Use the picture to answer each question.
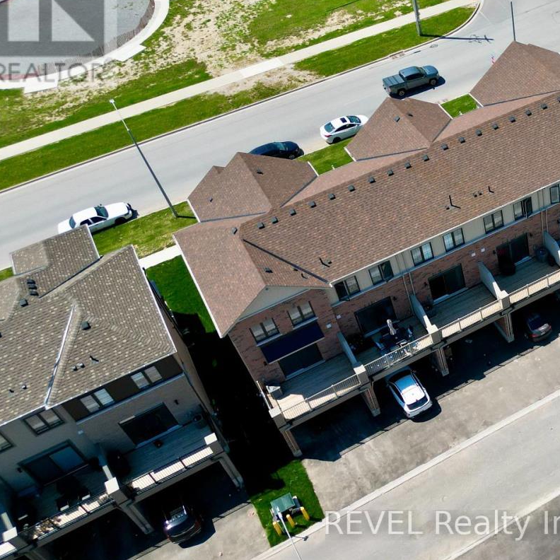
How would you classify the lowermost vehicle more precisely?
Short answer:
car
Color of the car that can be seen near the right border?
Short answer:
black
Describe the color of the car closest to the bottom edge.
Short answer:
black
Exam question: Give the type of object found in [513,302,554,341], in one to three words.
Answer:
car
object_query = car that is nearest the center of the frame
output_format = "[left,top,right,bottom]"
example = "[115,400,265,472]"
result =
[244,137,302,158]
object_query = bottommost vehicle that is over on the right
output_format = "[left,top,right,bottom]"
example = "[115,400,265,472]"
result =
[382,364,434,415]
